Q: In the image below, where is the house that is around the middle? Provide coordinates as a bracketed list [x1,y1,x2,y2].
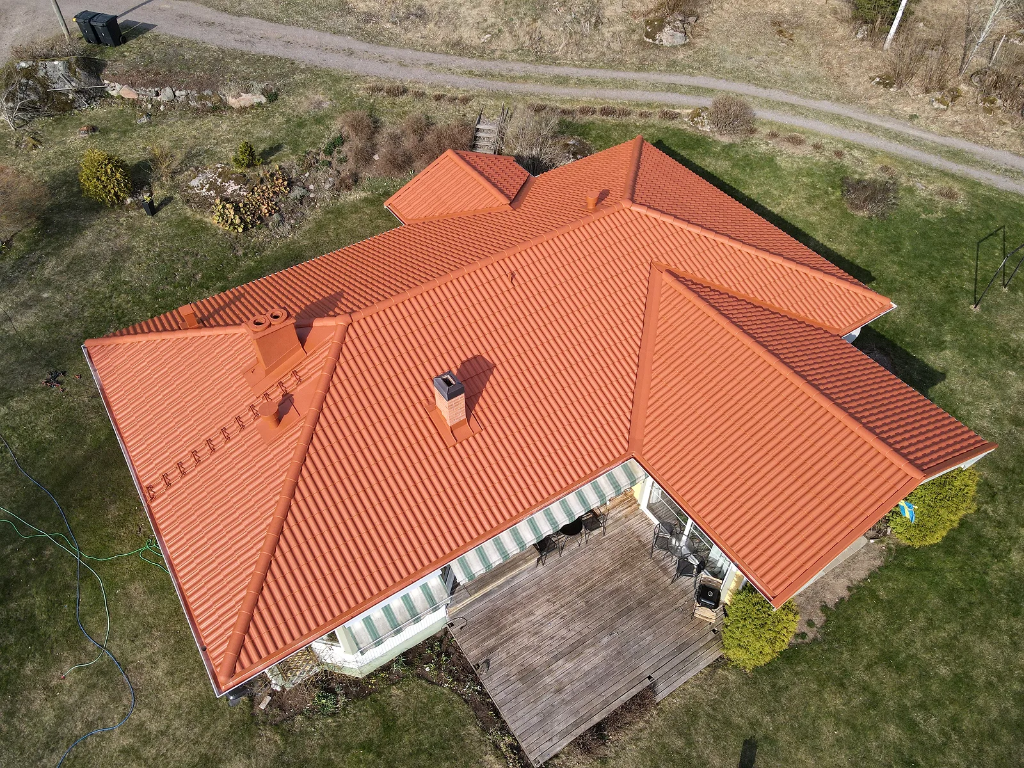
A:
[81,134,999,697]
